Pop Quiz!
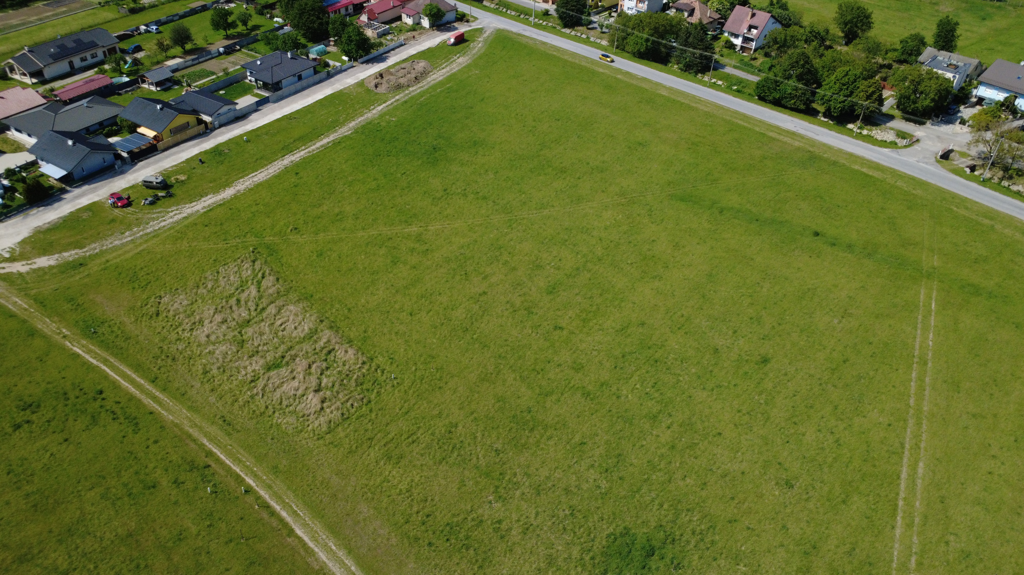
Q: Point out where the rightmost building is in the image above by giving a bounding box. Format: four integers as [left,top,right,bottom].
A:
[973,60,1024,113]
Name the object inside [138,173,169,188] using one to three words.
vehicle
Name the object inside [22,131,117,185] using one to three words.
house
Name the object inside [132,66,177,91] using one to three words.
building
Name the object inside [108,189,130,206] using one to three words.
car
